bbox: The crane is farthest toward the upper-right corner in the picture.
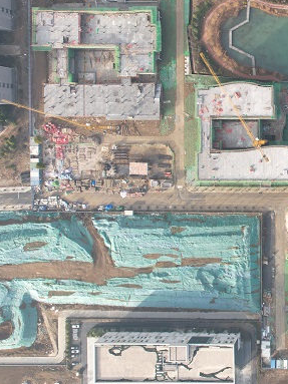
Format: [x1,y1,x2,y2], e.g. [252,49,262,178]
[201,53,270,162]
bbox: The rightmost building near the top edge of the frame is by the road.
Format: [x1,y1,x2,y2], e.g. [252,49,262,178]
[33,8,166,86]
